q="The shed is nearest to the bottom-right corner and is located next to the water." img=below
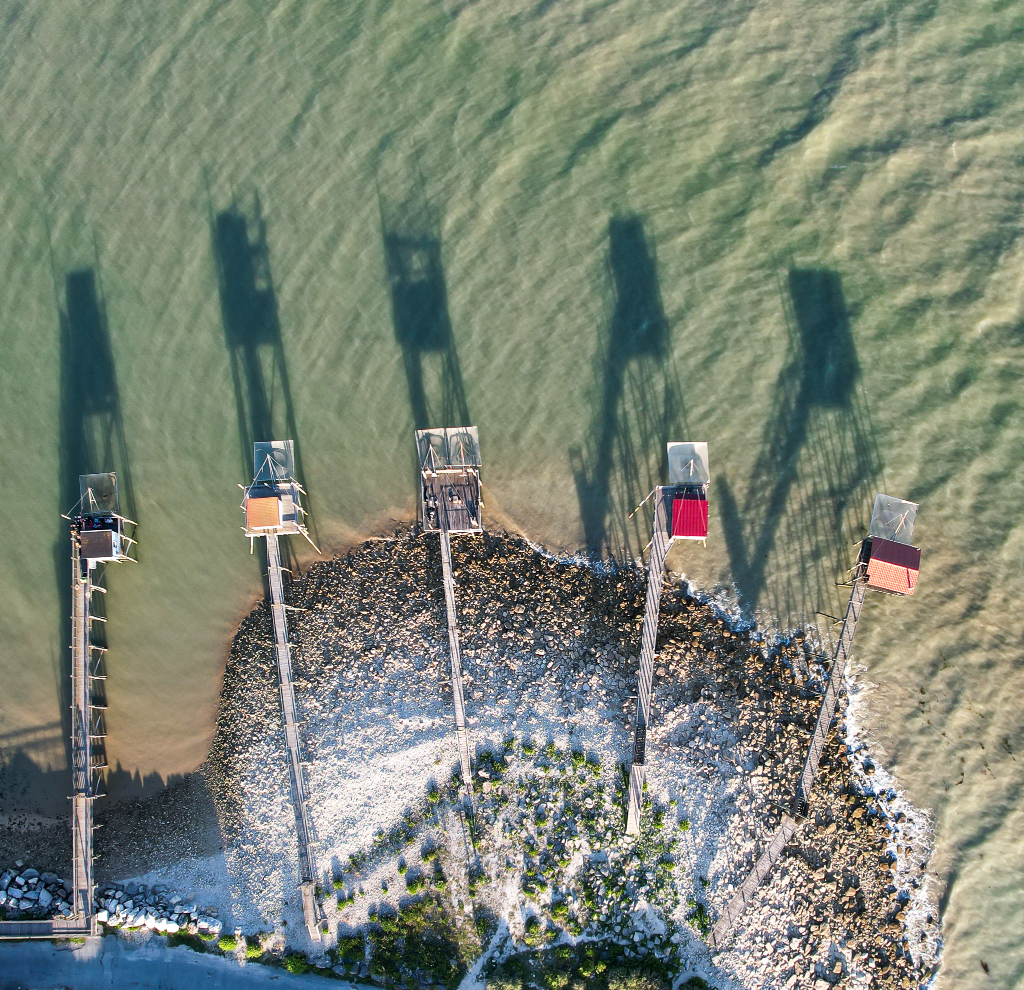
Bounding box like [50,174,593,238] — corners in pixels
[862,535,921,595]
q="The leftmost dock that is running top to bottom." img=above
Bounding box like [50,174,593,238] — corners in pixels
[60,513,140,938]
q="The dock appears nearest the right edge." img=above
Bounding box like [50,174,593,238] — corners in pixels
[706,534,929,948]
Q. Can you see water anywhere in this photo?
Yes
